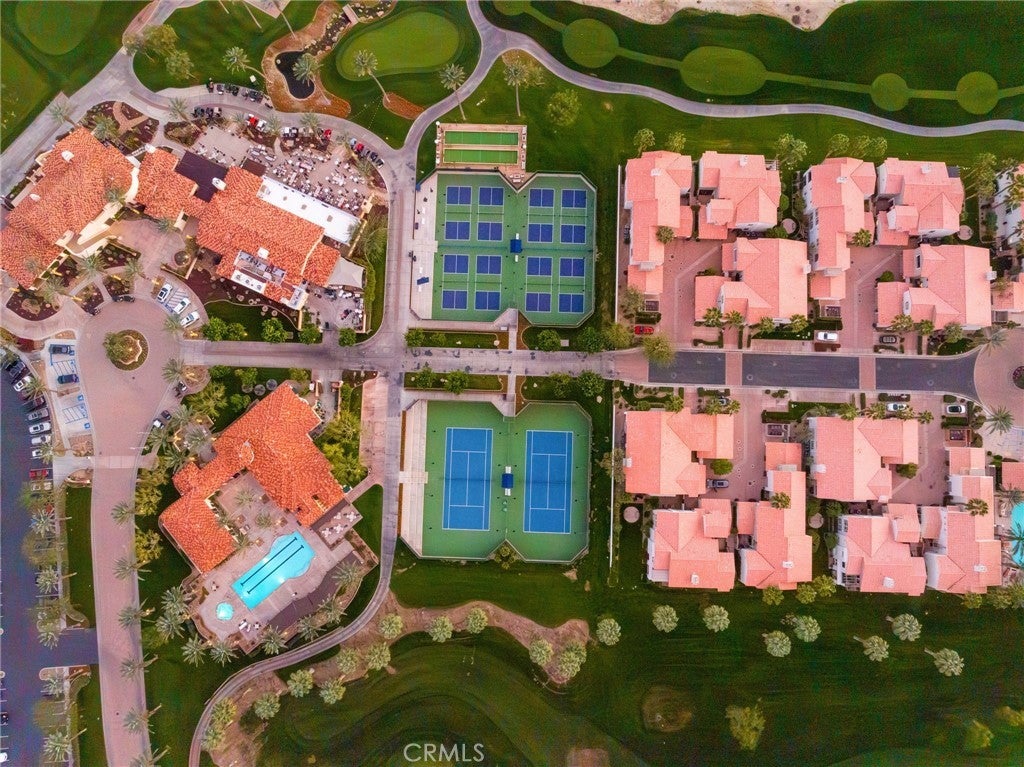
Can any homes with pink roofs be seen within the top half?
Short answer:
Yes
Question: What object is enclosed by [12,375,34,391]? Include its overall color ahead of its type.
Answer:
white car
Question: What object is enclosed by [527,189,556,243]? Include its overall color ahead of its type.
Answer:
blue sports court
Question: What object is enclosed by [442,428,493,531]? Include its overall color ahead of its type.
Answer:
blue tennis court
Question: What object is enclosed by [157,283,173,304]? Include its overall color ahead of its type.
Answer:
white car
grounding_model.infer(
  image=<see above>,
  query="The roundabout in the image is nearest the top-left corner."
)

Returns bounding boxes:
[103,327,149,371]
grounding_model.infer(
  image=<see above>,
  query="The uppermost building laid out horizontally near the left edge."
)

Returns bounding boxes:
[0,126,365,311]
